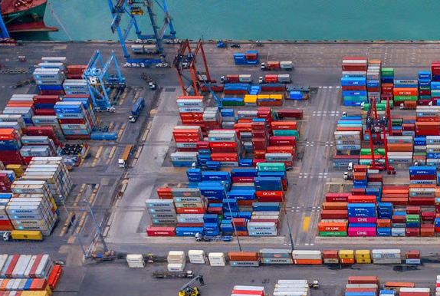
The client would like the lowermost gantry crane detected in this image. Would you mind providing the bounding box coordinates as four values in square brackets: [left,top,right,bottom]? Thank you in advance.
[366,91,398,168]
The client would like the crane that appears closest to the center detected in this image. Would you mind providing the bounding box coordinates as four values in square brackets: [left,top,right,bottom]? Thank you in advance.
[170,36,213,96]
